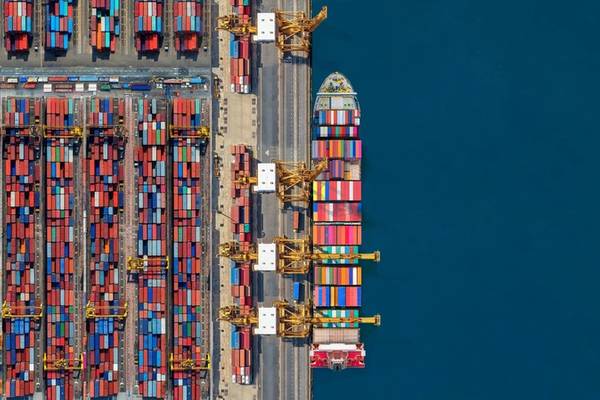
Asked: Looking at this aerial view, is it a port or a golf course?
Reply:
port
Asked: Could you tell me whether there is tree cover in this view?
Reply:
No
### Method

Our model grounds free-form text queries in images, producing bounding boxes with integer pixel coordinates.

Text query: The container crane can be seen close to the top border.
[217,2,328,57]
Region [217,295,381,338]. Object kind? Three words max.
container crane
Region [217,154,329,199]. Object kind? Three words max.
container crane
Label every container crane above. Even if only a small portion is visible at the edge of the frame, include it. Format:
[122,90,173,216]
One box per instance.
[44,353,89,370]
[217,154,329,199]
[44,126,89,140]
[217,295,381,338]
[217,2,328,57]
[128,256,173,269]
[2,126,47,139]
[171,126,213,140]
[171,353,213,370]
[217,235,381,275]
[87,302,131,317]
[87,126,131,139]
